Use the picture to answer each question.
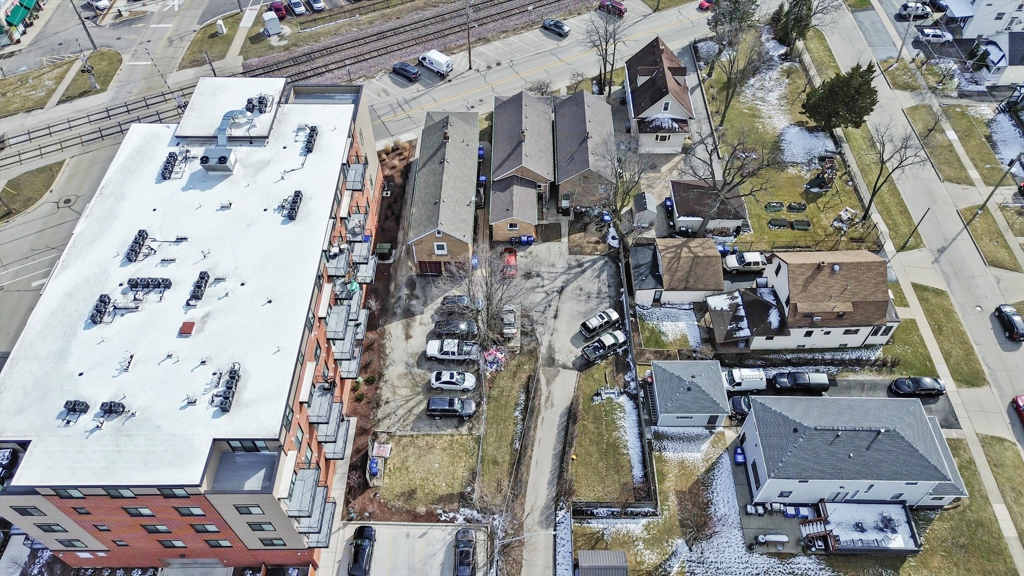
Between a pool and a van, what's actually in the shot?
van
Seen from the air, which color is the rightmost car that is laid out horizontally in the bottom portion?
black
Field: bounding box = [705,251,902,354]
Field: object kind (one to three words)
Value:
house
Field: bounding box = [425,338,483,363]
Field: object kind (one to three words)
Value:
truck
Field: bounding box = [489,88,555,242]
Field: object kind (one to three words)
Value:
house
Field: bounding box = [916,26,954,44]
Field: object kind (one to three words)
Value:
car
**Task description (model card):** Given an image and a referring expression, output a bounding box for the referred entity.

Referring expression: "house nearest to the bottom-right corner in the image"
[739,394,971,511]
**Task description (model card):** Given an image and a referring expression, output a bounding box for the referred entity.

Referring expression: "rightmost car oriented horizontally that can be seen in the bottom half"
[886,375,949,399]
